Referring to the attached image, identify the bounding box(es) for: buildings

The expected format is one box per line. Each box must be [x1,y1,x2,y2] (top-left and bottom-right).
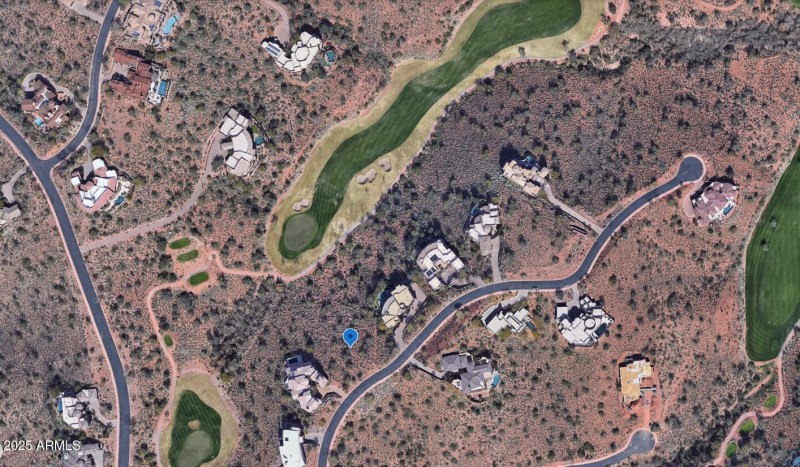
[285,353,330,412]
[123,0,184,44]
[501,155,552,198]
[218,105,266,178]
[484,306,536,336]
[69,156,131,215]
[278,426,307,467]
[62,442,101,467]
[555,294,614,348]
[20,78,73,129]
[109,48,166,103]
[380,283,416,330]
[619,357,656,408]
[690,180,739,228]
[261,30,324,77]
[440,351,501,397]
[416,237,466,290]
[57,387,100,428]
[466,202,502,258]
[0,202,23,226]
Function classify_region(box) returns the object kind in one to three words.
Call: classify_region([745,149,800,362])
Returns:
golf course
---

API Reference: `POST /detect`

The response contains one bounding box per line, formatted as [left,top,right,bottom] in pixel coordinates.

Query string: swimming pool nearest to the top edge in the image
[162,16,180,34]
